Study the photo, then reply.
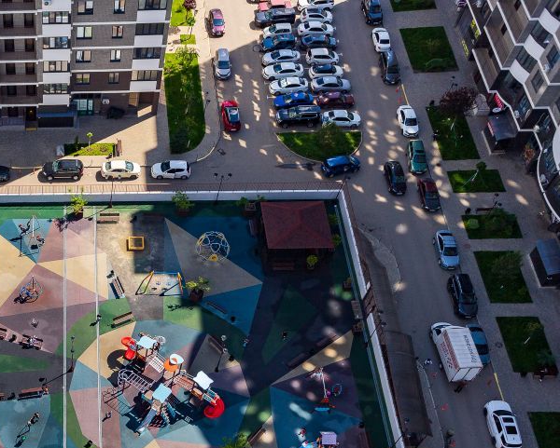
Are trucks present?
Yes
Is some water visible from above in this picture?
No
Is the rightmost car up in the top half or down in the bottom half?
bottom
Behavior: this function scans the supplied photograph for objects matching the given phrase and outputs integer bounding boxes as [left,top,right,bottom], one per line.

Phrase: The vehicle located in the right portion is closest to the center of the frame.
[319,156,362,177]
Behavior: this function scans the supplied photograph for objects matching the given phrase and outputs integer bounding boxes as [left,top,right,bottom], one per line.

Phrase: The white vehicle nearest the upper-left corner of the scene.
[101,162,140,180]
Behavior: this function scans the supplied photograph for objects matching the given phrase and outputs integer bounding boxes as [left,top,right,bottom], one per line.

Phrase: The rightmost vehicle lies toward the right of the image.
[486,401,523,448]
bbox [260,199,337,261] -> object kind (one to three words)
building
